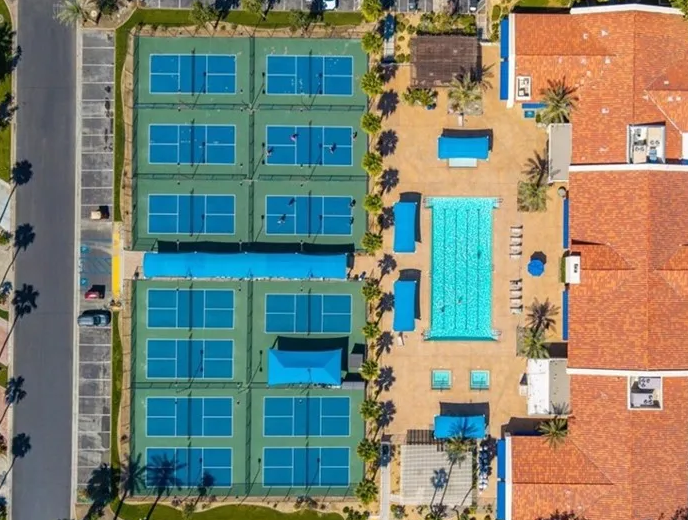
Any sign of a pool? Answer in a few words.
Yes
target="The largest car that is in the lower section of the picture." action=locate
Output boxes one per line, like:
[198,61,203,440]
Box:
[76,313,108,327]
